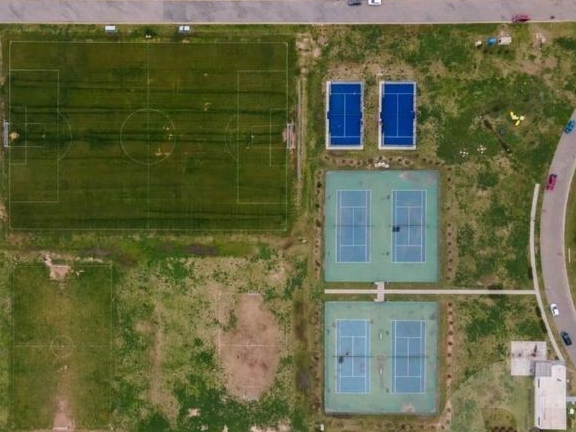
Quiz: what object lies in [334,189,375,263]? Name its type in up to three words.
tennis court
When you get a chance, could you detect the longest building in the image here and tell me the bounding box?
[531,359,566,430]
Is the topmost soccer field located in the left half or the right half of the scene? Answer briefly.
left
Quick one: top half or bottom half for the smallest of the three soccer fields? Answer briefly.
bottom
